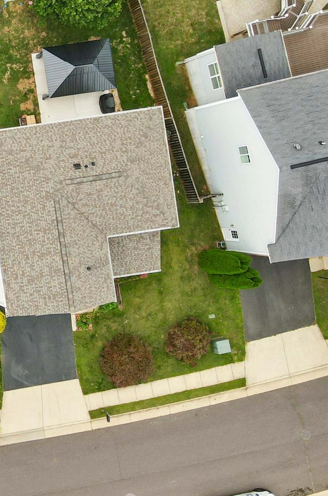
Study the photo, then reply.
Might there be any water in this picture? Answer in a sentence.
No, no water is visible.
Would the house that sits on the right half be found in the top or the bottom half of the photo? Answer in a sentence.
The house that sits on the right half is in the top half of the image.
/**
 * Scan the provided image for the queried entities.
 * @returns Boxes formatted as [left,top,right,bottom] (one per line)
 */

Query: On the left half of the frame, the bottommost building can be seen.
[0,106,180,316]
